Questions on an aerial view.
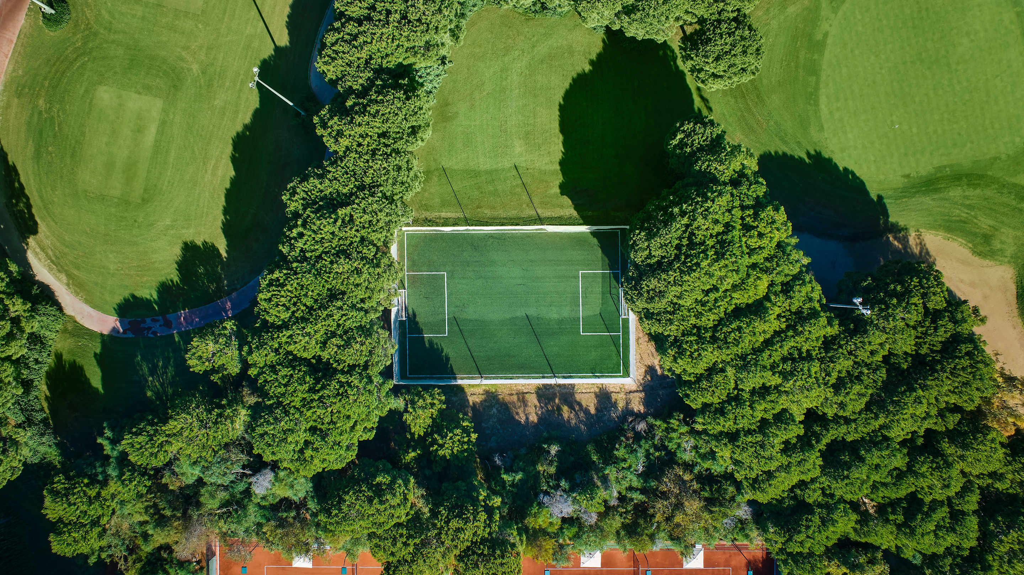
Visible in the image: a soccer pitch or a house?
soccer pitch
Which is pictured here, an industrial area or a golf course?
golf course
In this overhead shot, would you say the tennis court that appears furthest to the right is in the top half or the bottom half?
bottom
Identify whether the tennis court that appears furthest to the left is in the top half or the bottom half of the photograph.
bottom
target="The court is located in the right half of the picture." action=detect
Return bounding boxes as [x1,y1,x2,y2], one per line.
[521,544,769,575]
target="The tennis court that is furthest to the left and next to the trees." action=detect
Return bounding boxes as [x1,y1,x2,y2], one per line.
[220,539,385,575]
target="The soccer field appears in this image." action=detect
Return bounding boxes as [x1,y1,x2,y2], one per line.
[398,229,630,379]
